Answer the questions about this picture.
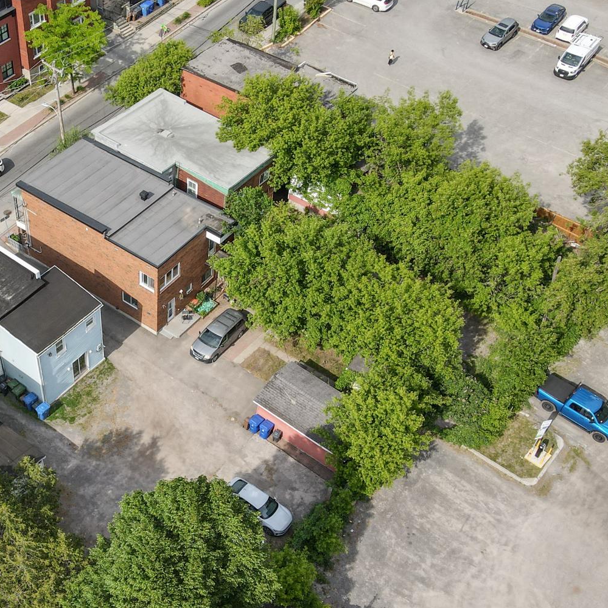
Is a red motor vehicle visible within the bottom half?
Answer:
No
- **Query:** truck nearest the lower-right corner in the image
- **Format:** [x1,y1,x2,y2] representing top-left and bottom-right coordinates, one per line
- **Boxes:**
[530,371,608,440]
